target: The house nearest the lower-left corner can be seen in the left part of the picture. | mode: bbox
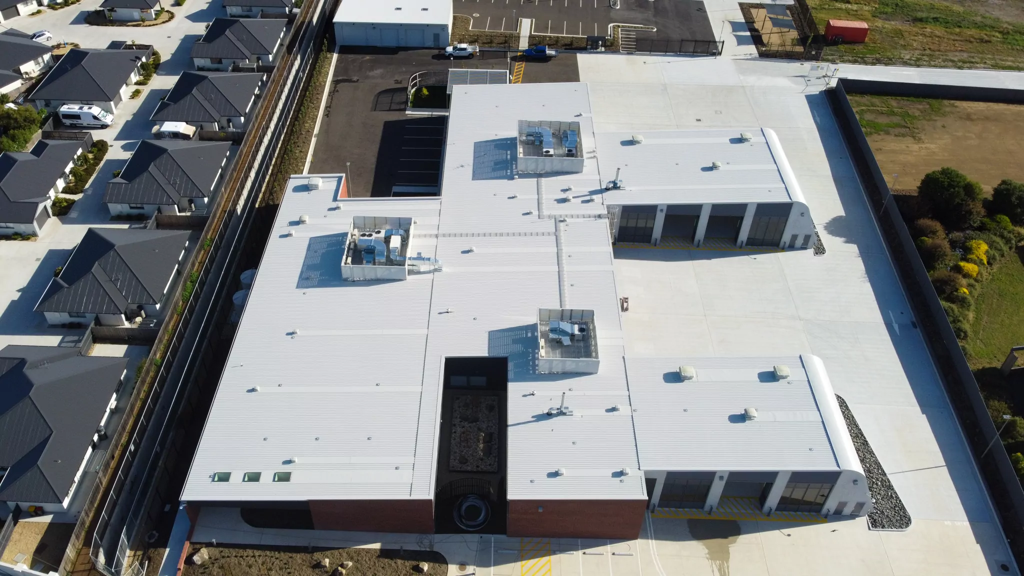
[0,344,132,513]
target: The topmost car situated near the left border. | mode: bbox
[29,28,54,41]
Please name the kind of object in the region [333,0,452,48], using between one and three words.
shed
